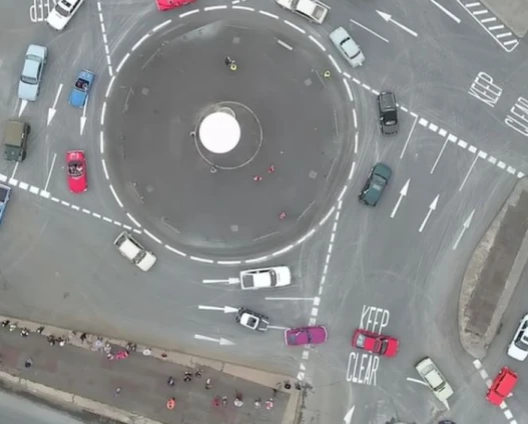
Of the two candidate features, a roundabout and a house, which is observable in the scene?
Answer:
roundabout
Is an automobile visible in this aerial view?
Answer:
Yes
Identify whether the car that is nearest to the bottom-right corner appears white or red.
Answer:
red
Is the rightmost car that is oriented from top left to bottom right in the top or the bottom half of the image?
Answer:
bottom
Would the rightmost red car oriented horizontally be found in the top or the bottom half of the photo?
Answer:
bottom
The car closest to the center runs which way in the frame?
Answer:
from side to side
